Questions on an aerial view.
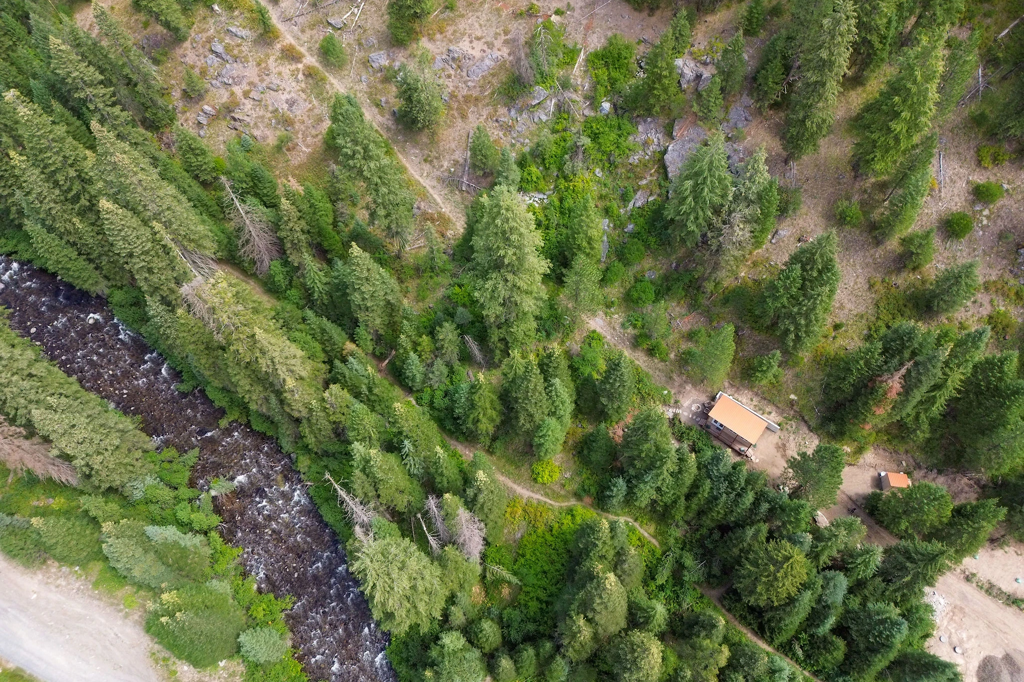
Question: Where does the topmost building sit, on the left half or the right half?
right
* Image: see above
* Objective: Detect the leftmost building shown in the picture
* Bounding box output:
[698,395,767,460]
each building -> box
[878,470,907,491]
[698,395,767,460]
